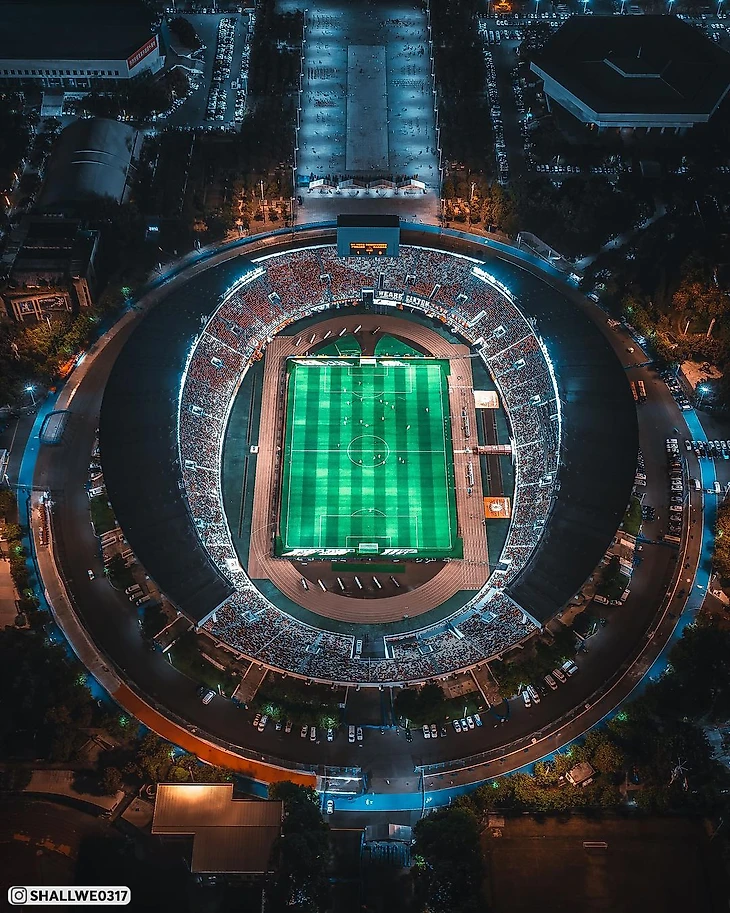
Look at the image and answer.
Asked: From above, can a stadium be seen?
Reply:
Yes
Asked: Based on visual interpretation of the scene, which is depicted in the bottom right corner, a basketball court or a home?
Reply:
home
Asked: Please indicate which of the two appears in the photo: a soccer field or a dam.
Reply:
soccer field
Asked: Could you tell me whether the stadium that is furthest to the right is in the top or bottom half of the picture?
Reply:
top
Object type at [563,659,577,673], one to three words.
vehicle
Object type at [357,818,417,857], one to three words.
building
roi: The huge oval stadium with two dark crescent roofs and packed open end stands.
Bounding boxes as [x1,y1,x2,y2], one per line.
[91,241,647,698]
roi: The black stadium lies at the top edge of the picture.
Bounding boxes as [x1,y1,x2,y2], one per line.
[529,15,730,141]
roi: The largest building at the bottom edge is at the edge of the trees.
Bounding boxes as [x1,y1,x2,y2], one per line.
[150,781,283,881]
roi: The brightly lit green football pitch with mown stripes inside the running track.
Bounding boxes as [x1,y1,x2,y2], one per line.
[280,358,472,559]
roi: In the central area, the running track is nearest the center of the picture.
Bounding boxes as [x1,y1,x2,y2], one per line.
[230,313,513,624]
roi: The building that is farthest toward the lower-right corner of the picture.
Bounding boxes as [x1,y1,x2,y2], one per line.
[565,761,595,794]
